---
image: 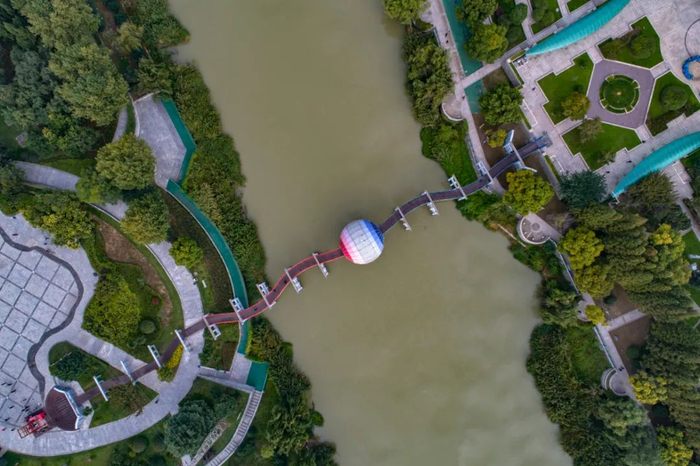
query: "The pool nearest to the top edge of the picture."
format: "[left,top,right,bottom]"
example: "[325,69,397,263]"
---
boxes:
[443,0,484,76]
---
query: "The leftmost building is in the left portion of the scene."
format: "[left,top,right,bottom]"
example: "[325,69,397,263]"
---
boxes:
[44,387,81,432]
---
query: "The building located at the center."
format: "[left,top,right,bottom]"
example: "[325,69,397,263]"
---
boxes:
[340,220,384,264]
